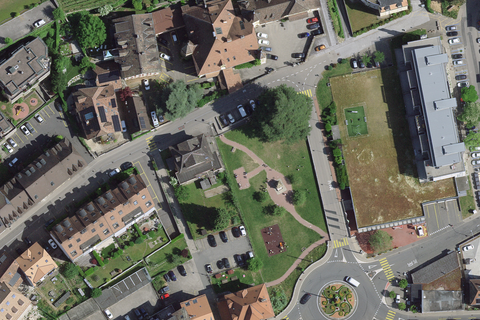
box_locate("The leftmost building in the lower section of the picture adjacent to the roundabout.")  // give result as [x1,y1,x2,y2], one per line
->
[217,284,274,320]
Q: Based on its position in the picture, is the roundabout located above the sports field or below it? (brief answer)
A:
below it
